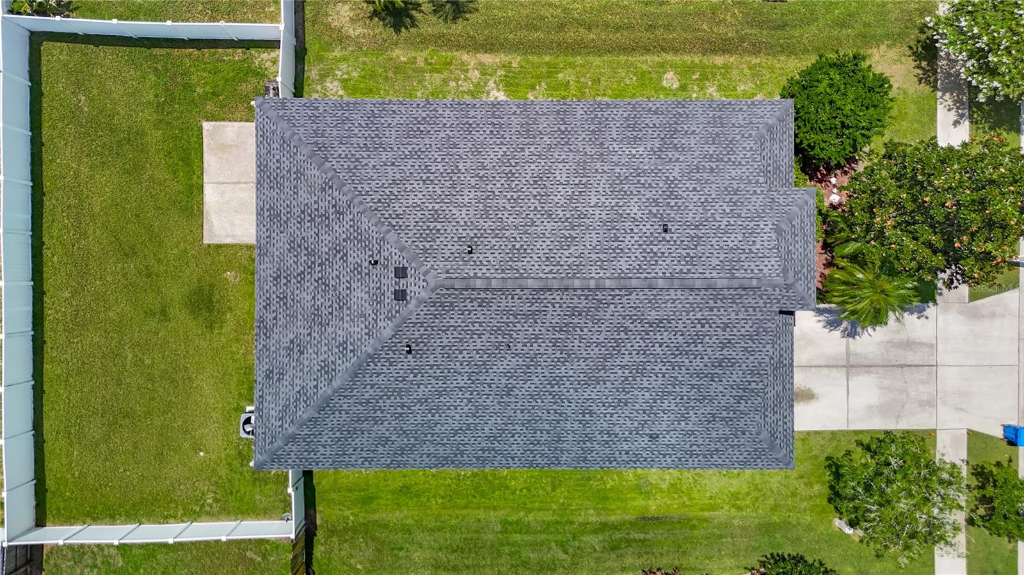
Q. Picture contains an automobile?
No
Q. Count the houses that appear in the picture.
1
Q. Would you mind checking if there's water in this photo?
No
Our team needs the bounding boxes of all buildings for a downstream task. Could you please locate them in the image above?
[252,95,819,472]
